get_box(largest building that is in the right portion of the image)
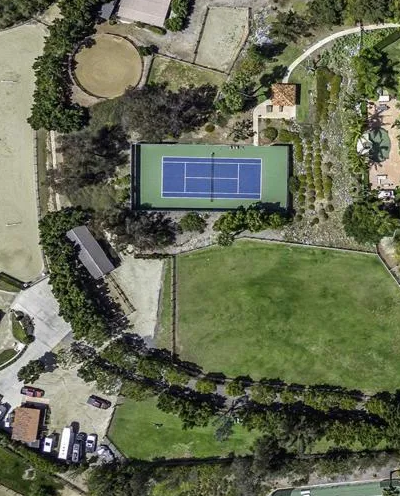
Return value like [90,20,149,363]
[272,84,295,105]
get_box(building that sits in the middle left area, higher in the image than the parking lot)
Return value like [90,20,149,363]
[69,225,118,279]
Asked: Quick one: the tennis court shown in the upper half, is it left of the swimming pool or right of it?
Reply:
on the left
